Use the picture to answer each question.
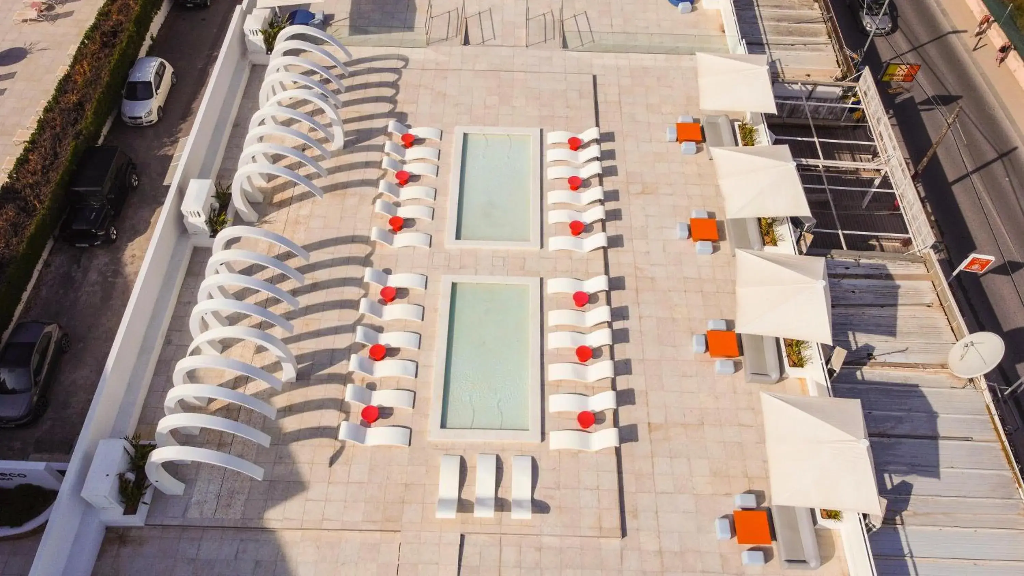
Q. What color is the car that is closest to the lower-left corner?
black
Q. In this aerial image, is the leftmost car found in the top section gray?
No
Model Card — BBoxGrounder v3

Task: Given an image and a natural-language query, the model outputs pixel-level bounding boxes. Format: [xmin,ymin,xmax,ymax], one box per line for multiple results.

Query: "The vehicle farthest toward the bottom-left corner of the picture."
[0,318,72,433]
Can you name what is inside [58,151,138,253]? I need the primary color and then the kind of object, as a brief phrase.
black car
